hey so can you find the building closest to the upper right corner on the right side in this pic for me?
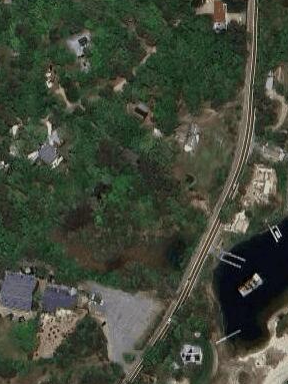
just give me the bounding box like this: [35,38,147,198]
[215,0,228,32]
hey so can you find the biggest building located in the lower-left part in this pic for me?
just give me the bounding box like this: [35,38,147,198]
[3,273,39,308]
